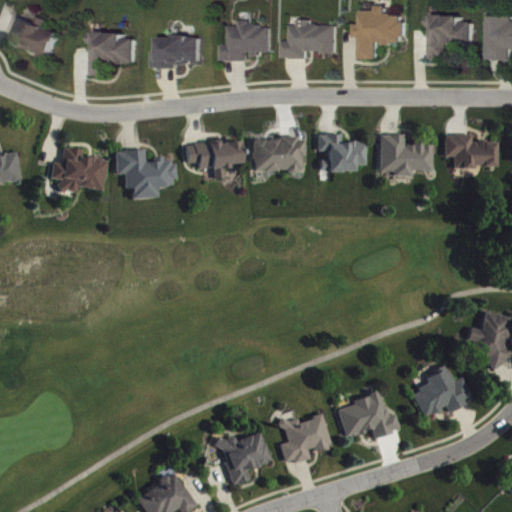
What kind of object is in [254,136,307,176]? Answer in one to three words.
house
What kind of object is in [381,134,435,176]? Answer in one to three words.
house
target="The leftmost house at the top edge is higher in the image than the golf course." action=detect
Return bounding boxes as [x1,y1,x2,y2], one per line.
[8,16,58,54]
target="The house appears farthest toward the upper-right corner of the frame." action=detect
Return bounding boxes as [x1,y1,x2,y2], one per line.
[484,17,512,62]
